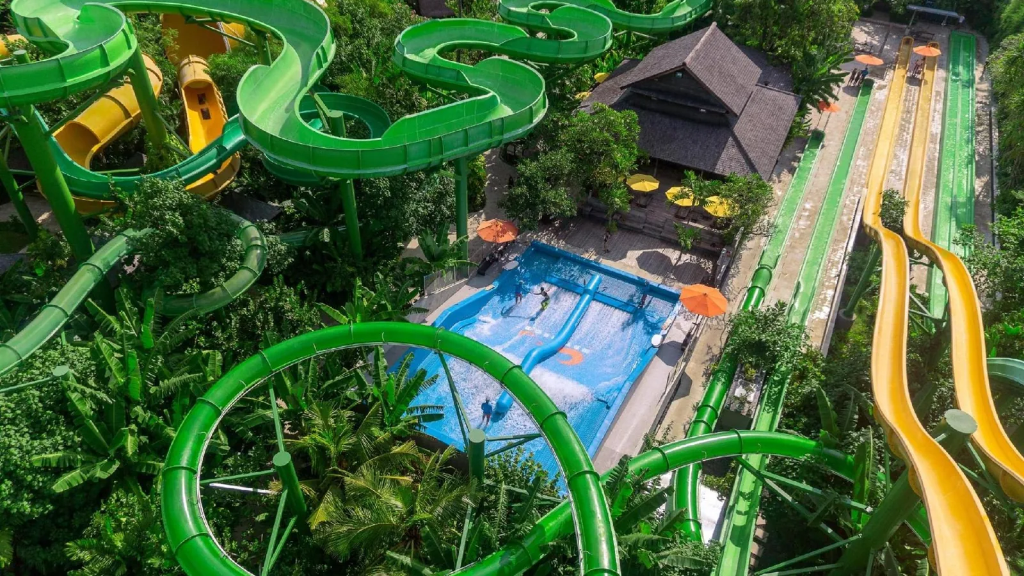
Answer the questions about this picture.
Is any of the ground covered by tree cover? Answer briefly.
Yes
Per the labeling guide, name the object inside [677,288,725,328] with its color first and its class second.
orange umbrella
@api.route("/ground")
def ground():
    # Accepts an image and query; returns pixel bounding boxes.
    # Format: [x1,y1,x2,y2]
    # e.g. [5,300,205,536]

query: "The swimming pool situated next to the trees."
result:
[394,239,688,506]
